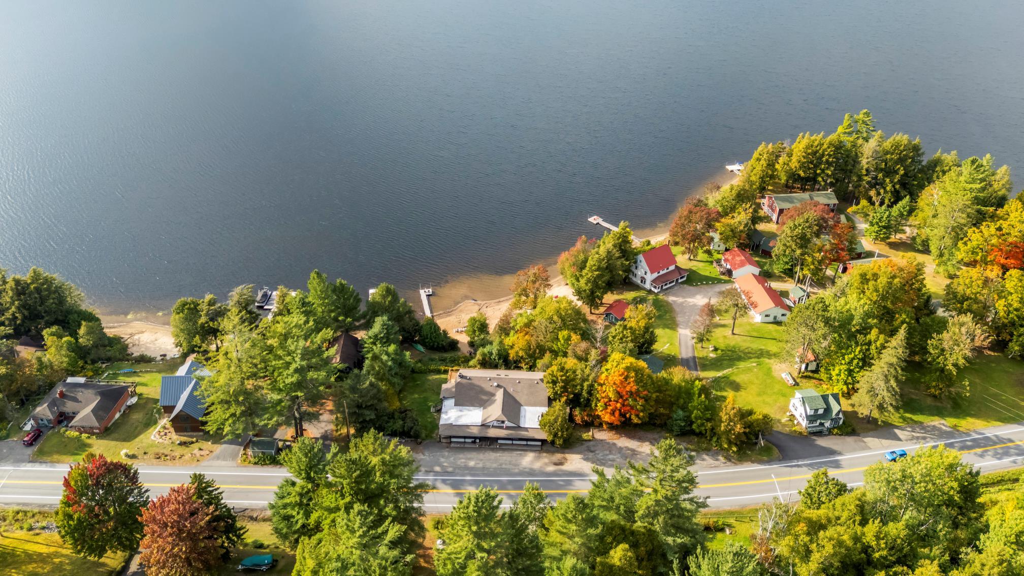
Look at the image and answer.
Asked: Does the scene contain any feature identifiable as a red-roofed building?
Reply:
Yes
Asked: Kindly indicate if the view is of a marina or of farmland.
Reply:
marina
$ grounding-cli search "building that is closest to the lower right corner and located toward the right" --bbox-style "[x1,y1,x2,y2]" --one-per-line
[796,389,844,434]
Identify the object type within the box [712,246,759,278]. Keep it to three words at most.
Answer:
building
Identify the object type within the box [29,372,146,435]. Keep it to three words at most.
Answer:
house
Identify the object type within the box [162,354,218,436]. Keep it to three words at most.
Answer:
house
